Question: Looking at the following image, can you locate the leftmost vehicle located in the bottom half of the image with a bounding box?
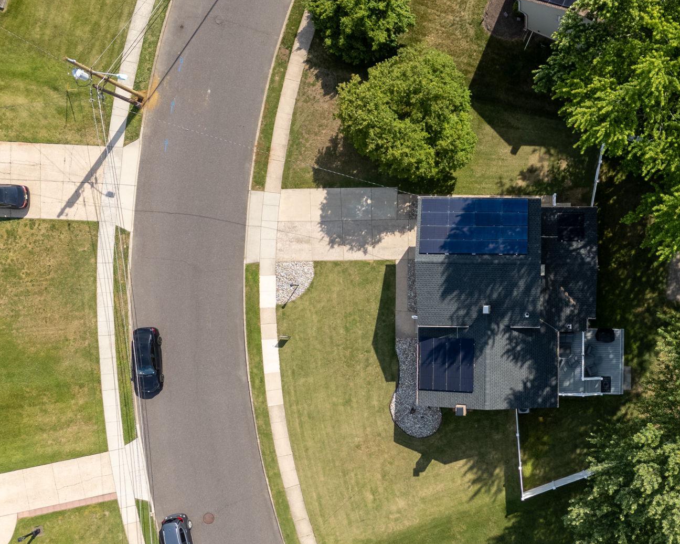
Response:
[130,328,167,396]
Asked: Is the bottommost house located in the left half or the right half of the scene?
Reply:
right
